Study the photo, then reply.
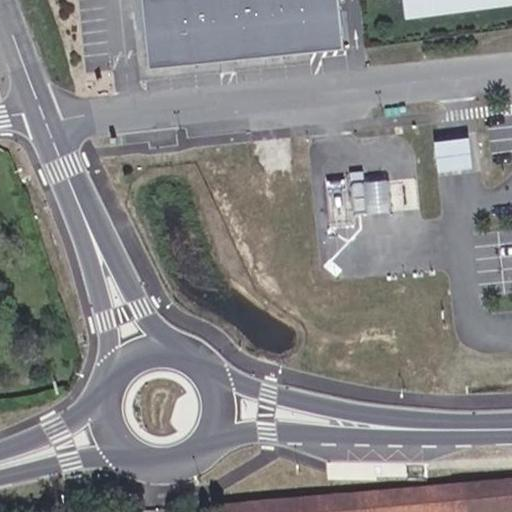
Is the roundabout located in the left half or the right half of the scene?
left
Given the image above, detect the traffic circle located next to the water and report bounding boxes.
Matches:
[92,338,232,477]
